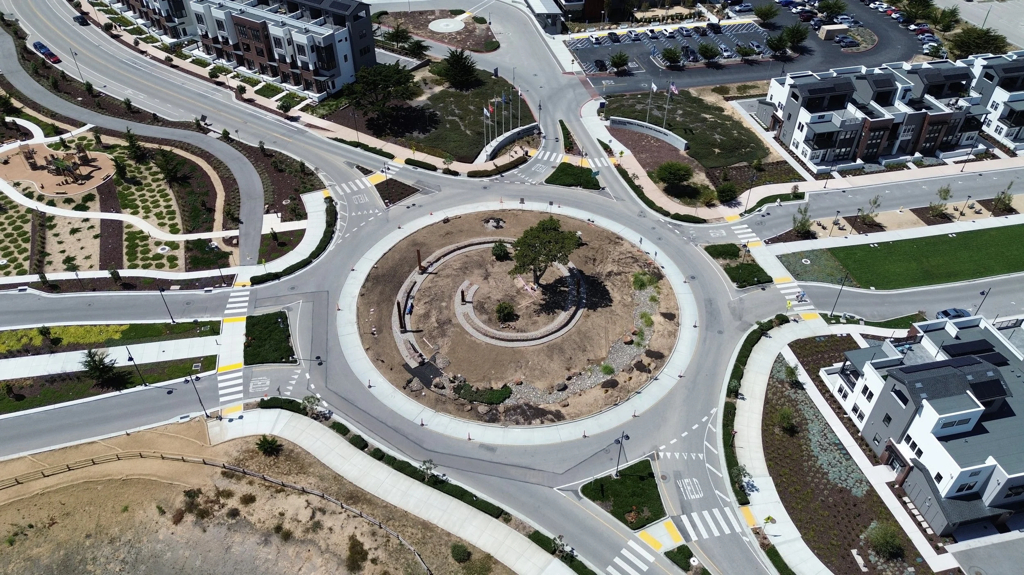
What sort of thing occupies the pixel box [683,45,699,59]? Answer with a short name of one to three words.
vehicle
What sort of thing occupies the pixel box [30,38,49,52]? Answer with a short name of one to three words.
car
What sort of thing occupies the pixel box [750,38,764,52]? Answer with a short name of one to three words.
car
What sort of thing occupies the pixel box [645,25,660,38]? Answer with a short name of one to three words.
vehicle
